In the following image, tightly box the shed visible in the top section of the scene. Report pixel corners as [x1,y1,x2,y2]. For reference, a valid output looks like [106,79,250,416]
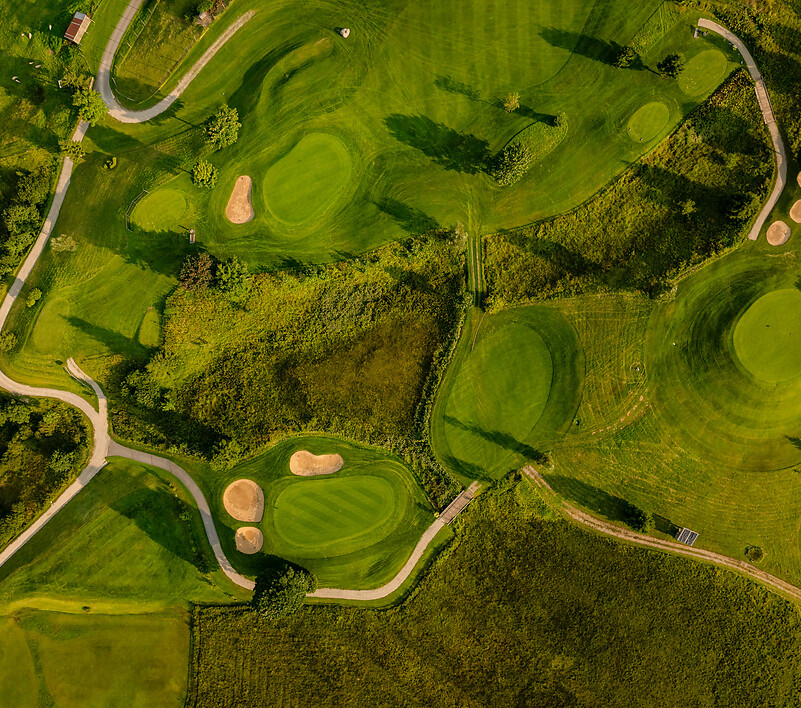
[64,12,101,45]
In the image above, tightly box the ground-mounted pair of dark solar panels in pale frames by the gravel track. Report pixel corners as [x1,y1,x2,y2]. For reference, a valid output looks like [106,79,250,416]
[677,526,699,546]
